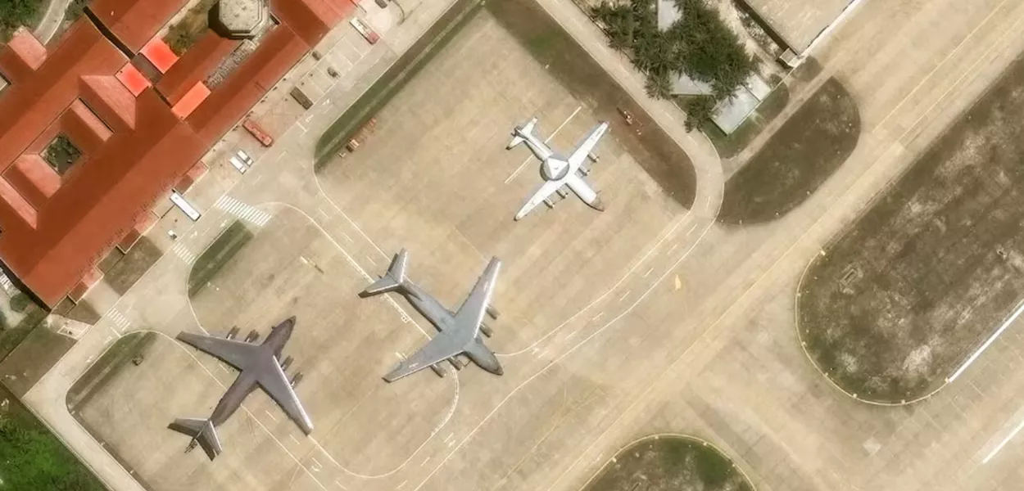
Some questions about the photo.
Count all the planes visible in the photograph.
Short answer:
3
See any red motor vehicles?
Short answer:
Yes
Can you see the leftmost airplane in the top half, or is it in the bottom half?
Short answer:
bottom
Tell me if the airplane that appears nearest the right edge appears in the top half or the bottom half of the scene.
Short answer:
top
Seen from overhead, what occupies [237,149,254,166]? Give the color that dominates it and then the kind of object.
white vehicle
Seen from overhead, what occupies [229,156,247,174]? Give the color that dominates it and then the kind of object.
white vehicle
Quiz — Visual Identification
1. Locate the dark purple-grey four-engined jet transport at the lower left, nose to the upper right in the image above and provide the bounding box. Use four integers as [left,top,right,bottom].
[172,317,309,458]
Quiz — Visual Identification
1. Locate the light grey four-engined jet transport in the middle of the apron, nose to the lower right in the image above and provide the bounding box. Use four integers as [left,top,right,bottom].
[362,249,503,383]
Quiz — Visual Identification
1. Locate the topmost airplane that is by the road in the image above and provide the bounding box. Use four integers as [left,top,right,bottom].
[507,114,608,218]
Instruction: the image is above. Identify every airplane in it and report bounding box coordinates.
[172,317,309,458]
[362,249,503,383]
[507,114,608,218]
